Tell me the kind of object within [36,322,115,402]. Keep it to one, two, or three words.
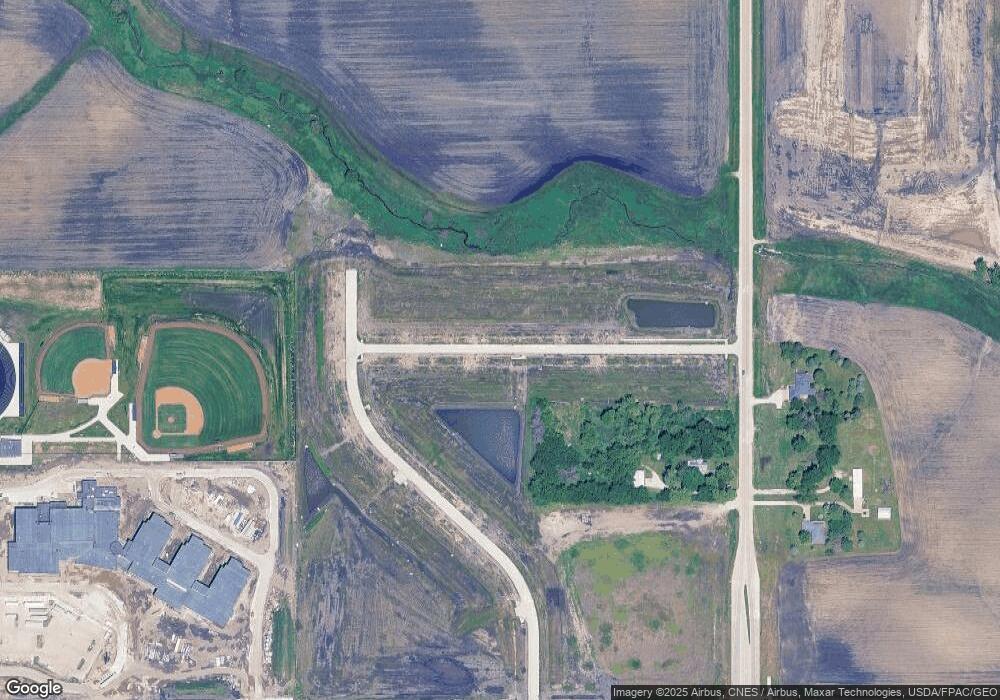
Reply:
baseball field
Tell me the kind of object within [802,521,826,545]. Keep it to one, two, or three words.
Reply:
house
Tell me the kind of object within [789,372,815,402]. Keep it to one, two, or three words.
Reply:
house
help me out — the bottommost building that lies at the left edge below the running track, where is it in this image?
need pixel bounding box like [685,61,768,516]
[7,479,250,628]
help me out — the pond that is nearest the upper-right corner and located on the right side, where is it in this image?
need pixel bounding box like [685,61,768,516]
[628,299,716,327]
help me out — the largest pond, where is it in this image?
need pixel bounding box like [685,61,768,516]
[438,409,520,483]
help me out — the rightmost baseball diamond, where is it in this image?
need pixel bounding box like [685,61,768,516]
[136,321,269,454]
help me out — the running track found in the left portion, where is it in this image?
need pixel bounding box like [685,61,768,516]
[0,328,24,420]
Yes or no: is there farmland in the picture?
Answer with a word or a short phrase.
Yes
